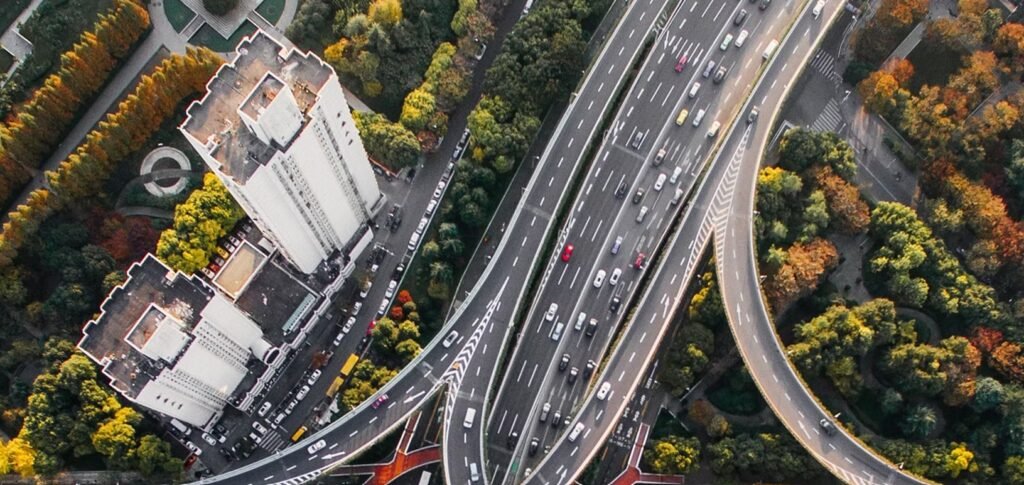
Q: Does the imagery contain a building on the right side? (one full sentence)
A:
No, there's no building to be seen on the right side.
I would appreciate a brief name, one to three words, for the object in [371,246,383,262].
vehicle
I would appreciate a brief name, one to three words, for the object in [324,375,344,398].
bus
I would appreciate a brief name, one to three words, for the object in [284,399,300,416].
car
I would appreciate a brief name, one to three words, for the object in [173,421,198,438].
vehicle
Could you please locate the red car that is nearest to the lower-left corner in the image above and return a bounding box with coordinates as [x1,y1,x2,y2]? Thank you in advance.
[184,453,197,469]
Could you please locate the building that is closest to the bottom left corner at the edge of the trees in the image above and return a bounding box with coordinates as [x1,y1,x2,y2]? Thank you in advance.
[80,252,274,429]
